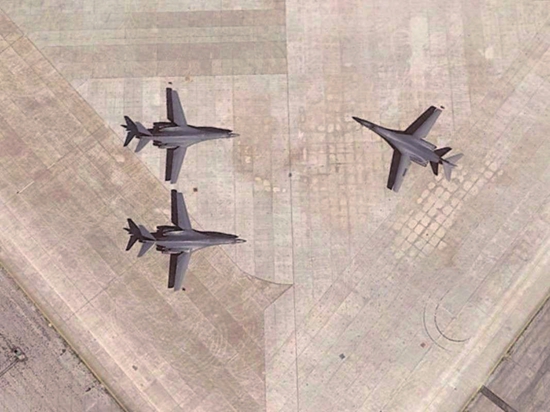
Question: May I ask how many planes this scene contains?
3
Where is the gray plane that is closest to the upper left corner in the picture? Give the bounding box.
[135,89,240,183]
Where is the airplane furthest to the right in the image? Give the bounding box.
[358,107,463,193]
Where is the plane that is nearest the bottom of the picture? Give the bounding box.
[140,191,246,290]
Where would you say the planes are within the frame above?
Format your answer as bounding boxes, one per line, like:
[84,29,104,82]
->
[135,89,240,183]
[358,107,463,193]
[140,191,246,290]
